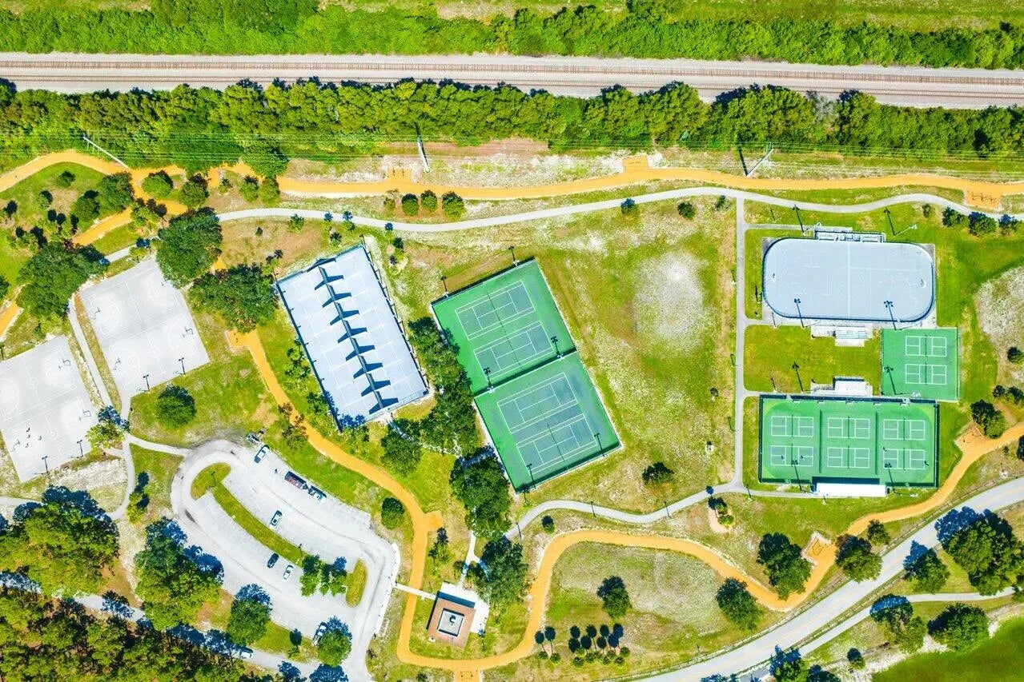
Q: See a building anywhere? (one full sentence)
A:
Yes, there's a building here.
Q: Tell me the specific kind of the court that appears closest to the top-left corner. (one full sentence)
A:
In the photo, the court that appears closest to the top-left corner shows up as a basketball court.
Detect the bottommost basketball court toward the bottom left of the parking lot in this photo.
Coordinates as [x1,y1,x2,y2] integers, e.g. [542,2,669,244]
[0,391,105,483]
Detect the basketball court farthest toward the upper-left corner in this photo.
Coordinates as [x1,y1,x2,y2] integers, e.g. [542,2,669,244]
[81,257,183,345]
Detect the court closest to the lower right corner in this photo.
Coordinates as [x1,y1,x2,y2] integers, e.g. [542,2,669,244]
[876,442,939,487]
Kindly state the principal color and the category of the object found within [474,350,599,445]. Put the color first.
green tennis court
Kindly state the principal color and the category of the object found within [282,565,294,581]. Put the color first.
white vehicle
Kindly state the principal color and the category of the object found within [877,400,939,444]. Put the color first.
green sports court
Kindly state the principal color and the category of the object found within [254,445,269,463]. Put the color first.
white vehicle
